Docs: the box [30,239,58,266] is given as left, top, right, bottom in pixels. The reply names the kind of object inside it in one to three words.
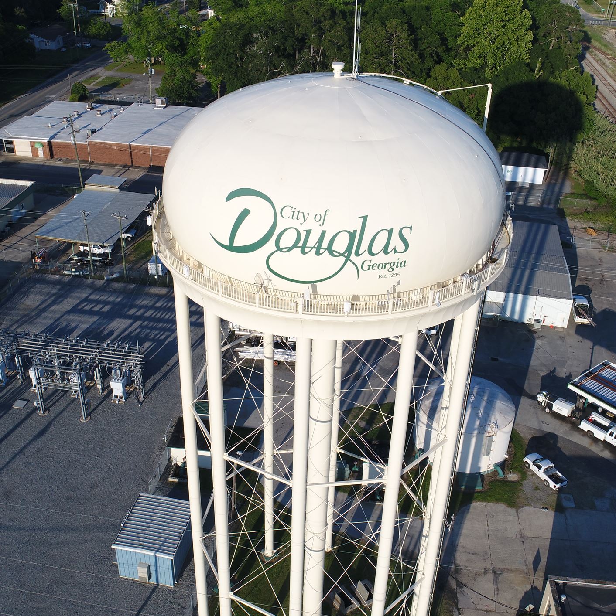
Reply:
truck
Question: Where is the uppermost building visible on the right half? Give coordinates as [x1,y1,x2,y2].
[503,154,548,186]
